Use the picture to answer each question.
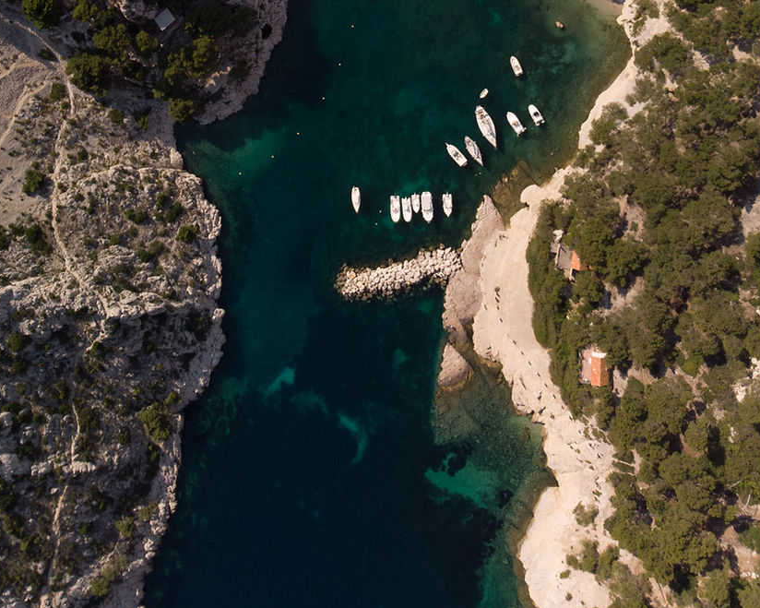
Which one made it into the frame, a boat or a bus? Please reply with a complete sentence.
I can see a boat in this picture.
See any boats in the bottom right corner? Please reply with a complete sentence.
No, I see no boat in the bottom right corner.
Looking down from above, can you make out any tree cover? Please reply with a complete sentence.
Yes, some tree cover is visible.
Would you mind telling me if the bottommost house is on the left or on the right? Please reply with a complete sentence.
You can find the bottommost house on the right side of the picture.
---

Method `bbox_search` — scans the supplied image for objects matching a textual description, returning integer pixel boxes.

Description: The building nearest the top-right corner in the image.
[548,239,592,271]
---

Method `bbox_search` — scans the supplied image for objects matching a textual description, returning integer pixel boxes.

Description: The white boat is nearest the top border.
[510,55,523,78]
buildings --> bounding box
[153,8,172,31]
[580,346,609,388]
[548,239,592,271]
